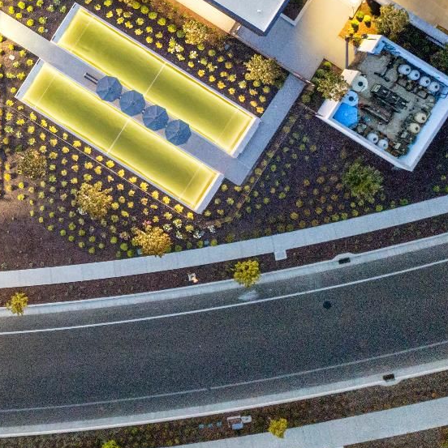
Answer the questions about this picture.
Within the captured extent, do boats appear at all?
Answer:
No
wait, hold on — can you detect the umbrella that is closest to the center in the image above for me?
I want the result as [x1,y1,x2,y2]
[165,120,190,144]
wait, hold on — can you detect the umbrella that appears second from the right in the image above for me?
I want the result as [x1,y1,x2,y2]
[141,105,168,130]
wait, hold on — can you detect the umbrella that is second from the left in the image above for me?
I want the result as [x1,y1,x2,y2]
[120,90,145,115]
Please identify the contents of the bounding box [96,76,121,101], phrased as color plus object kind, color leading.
blue umbrella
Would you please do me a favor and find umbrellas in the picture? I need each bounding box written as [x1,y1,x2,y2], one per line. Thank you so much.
[165,120,190,144]
[141,105,168,130]
[120,90,145,115]
[96,76,121,101]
